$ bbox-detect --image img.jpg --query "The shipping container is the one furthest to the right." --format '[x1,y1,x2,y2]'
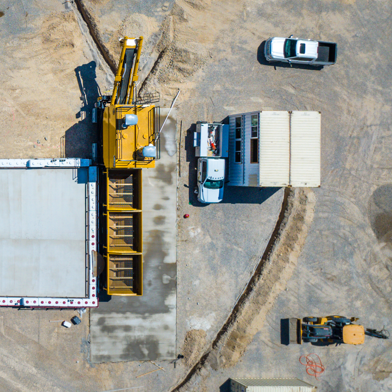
[290,111,320,187]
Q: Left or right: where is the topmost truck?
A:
right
